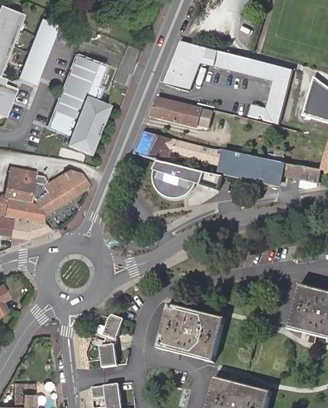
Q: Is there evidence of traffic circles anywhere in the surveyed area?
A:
Yes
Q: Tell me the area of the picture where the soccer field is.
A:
top right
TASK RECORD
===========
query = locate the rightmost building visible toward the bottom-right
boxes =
[286,284,328,342]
